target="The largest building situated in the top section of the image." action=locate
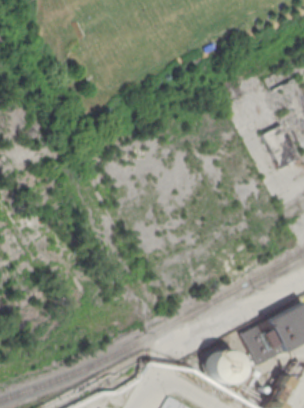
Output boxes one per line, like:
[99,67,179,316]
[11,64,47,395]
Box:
[260,124,304,169]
